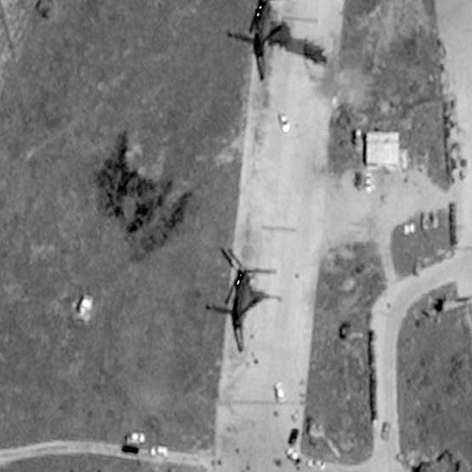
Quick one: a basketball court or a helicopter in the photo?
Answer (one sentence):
Visible in the photo is a helicopter.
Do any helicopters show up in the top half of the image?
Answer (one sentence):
Yes, you'll find a helicopter in the top half of the image.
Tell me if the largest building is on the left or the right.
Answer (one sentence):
You can find the largest building on the right side of the picture.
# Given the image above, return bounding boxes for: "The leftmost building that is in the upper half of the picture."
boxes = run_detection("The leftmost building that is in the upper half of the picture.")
[366,131,400,173]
